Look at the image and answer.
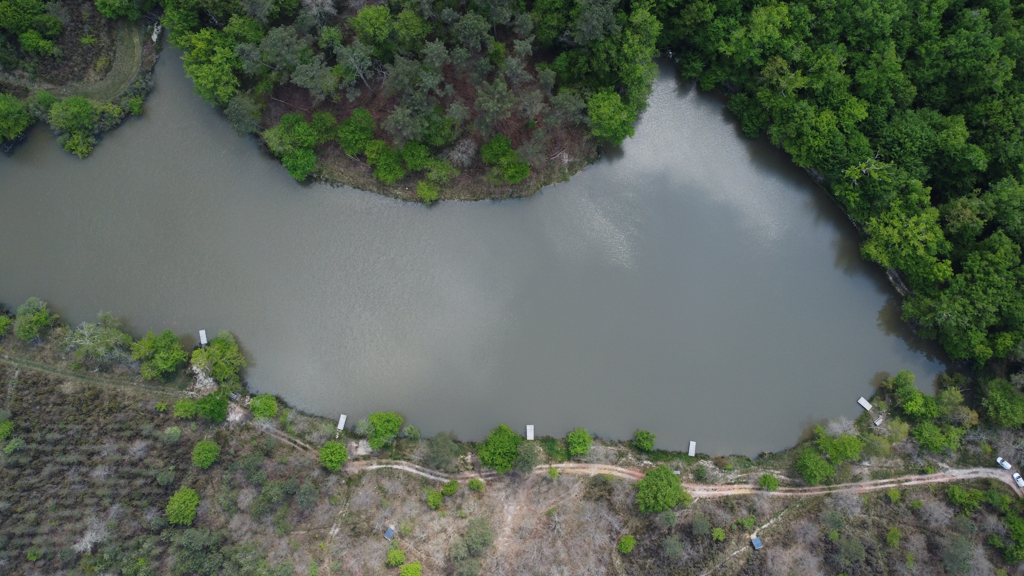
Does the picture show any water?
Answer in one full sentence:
Yes, water shows up in the scene.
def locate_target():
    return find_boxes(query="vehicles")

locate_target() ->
[1013,473,1024,489]
[998,457,1015,471]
